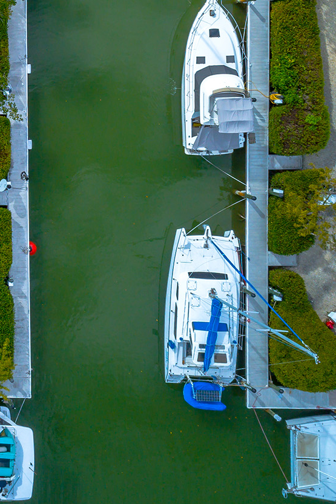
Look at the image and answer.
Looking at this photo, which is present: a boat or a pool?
boat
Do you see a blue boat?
Yes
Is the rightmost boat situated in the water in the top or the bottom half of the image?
bottom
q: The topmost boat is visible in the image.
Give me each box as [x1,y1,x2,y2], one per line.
[176,0,254,155]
